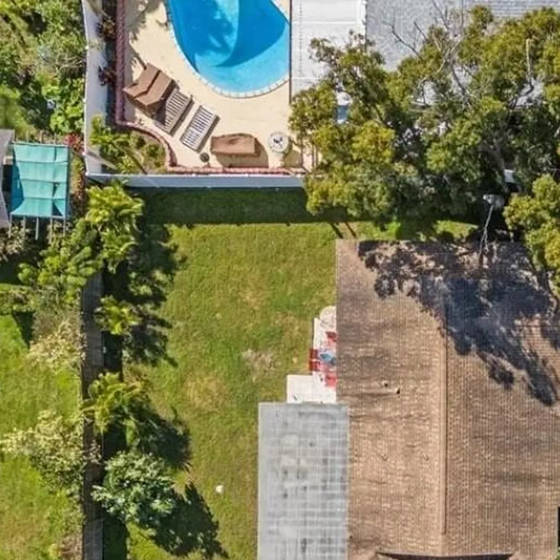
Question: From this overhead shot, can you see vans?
No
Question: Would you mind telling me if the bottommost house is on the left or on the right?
right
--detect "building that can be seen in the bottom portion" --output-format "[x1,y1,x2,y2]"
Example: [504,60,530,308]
[258,234,560,560]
